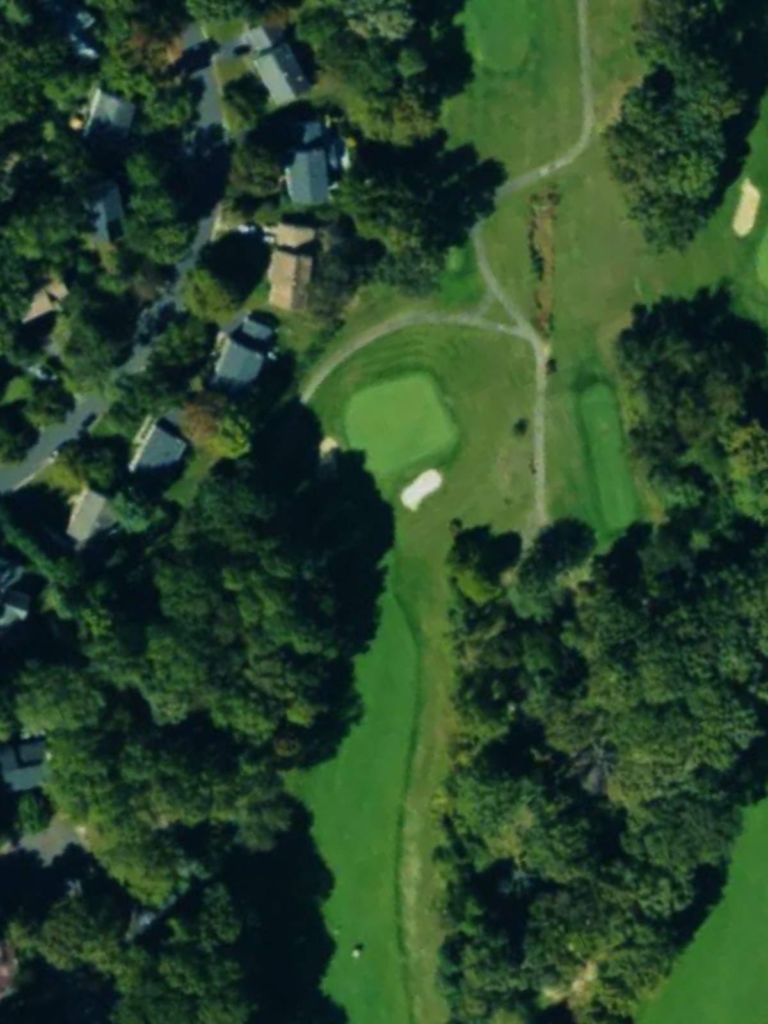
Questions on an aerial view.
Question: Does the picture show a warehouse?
No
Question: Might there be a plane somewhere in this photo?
No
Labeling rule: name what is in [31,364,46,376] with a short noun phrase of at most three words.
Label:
vehicle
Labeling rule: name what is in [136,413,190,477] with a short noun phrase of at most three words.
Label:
house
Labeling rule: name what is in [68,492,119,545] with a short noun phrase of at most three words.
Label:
house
